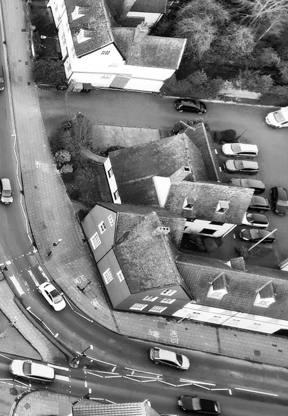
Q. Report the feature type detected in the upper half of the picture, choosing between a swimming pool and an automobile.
automobile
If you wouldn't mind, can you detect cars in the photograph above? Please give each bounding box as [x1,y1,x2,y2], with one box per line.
[31,277,72,315]
[243,211,274,229]
[219,141,262,159]
[10,358,56,382]
[224,157,262,176]
[264,110,288,128]
[269,182,288,218]
[236,226,281,245]
[148,345,192,372]
[248,196,277,213]
[0,174,17,208]
[176,392,225,416]
[230,175,270,194]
